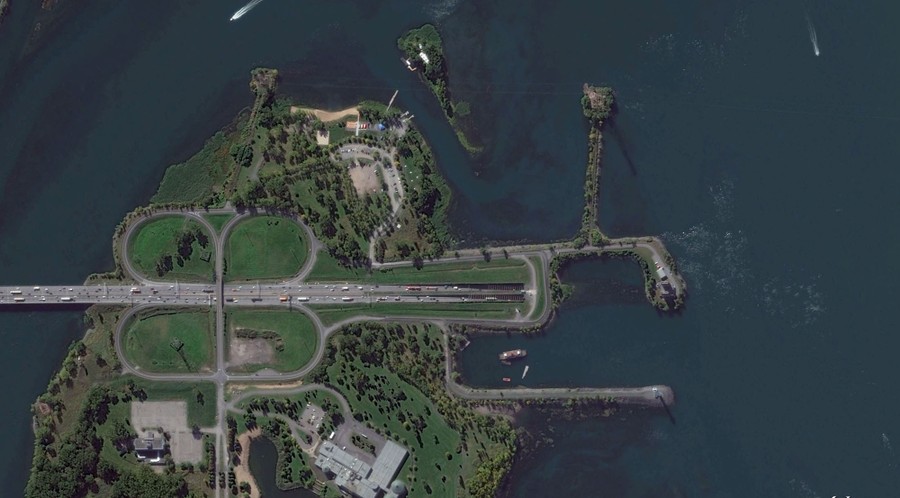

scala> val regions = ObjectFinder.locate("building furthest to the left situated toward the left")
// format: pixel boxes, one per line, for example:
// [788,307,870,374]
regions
[134,432,166,466]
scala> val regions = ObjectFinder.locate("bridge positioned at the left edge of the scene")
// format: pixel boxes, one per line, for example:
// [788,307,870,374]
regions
[0,285,89,305]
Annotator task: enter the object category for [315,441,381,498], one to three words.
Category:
building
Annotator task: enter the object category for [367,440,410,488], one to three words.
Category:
building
